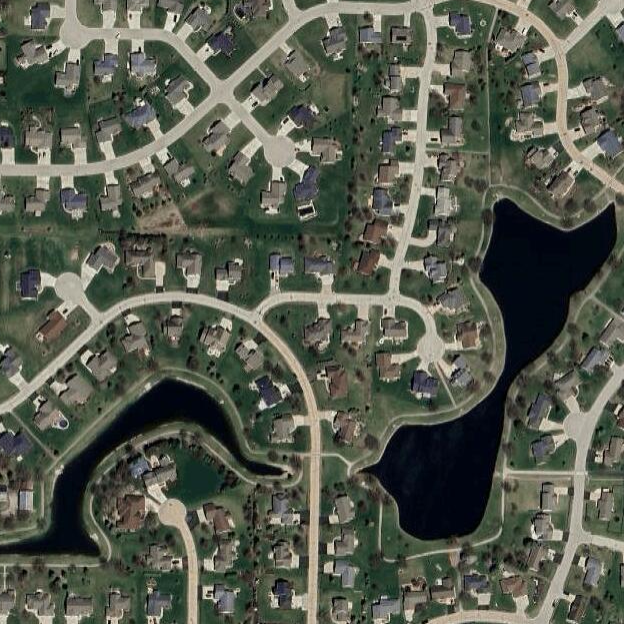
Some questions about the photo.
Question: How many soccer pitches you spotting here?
none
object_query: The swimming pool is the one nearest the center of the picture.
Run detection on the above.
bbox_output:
[295,201,317,221]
